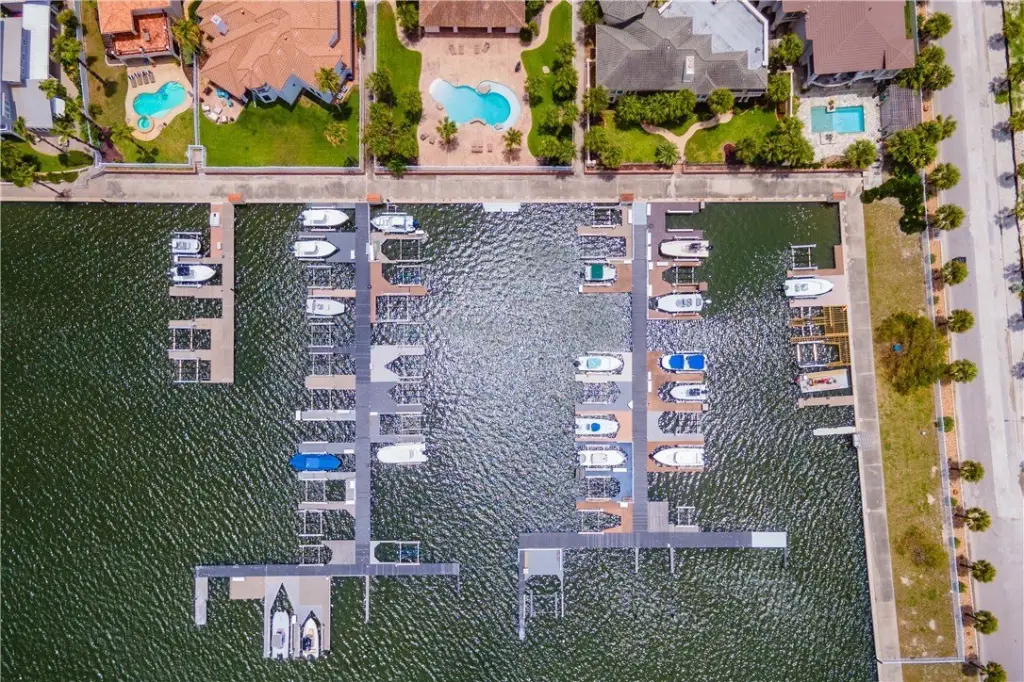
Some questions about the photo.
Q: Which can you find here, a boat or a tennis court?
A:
boat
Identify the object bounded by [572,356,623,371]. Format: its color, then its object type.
white boat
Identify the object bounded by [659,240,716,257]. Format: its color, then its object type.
white boat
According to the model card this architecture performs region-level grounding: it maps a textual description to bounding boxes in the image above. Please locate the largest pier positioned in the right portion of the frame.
[519,203,786,548]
